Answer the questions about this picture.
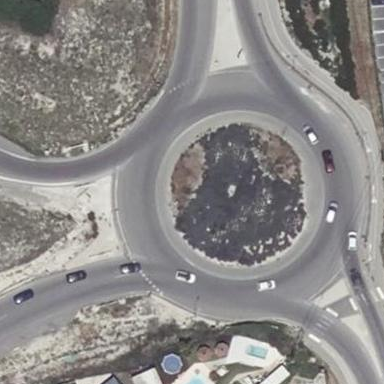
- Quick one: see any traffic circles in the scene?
Yes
